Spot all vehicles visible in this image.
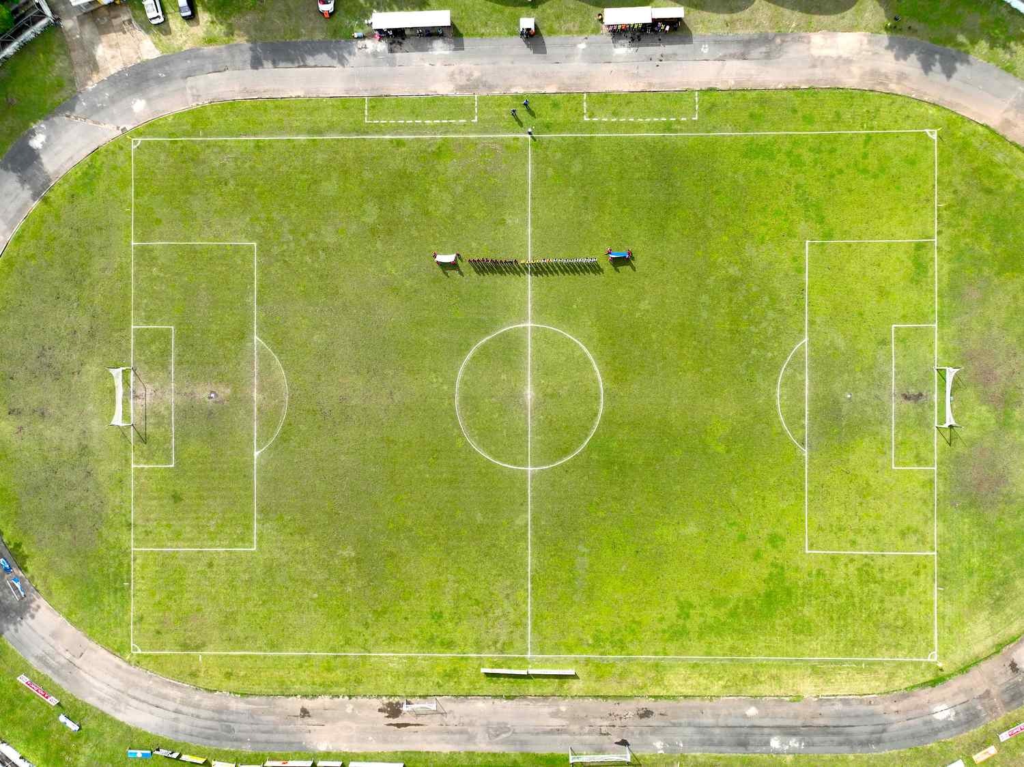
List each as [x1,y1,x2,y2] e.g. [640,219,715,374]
[317,0,334,13]
[176,0,194,20]
[138,0,163,27]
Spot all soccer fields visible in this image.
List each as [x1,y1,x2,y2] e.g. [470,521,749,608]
[123,94,945,667]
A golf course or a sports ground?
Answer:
sports ground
